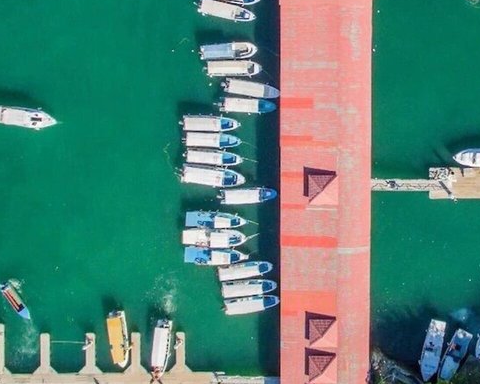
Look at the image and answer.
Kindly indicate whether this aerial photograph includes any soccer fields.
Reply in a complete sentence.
No, there's no soccer field here.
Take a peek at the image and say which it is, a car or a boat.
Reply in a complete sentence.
There is a boat in the scene.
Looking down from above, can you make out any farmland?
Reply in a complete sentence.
No, the picture contains no farmland.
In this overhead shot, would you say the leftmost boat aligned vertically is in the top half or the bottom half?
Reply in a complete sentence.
The leftmost boat aligned vertically is in the bottom half of the image.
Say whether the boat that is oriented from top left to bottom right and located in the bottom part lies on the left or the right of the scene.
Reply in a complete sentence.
You can find the boat that is oriented from top left to bottom right and located in the bottom part on the left side of the picture.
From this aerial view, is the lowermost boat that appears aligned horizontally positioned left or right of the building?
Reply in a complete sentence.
Compared with the building, the lowermost boat that appears aligned horizontally is located further to the left.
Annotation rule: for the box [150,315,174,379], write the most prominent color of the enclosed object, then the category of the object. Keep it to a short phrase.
white boat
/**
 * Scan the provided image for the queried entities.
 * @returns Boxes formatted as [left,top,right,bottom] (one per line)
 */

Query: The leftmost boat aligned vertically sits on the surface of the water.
[109,308,134,368]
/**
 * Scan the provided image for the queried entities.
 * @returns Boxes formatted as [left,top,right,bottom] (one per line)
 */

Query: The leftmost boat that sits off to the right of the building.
[421,318,446,382]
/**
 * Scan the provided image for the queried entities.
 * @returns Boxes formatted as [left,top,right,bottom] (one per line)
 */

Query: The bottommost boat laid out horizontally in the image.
[221,294,279,316]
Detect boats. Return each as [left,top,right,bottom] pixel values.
[0,108,59,131]
[183,133,257,151]
[196,0,278,23]
[421,318,446,382]
[453,150,480,168]
[198,42,278,62]
[184,247,257,265]
[218,277,278,297]
[150,315,174,379]
[184,211,256,229]
[442,329,471,380]
[0,281,30,319]
[181,116,241,133]
[180,166,278,187]
[215,98,277,116]
[221,294,279,316]
[215,187,278,204]
[204,59,276,80]
[184,150,256,168]
[109,308,134,368]
[218,78,278,100]
[181,228,258,247]
[216,261,279,281]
